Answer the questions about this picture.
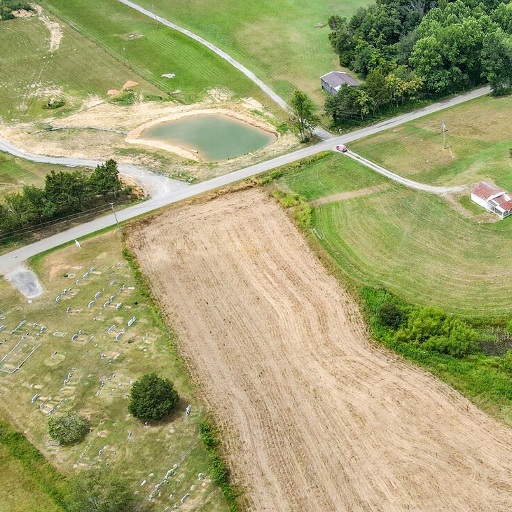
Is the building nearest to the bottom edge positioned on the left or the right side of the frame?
right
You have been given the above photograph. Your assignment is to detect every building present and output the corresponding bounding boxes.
[318,70,359,98]
[466,179,512,219]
